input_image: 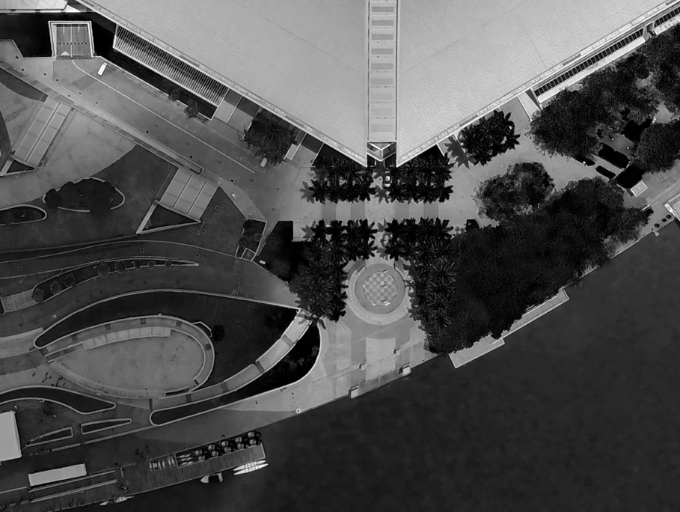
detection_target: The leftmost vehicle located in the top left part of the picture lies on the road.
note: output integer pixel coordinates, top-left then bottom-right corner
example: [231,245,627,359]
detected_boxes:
[96,61,109,77]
